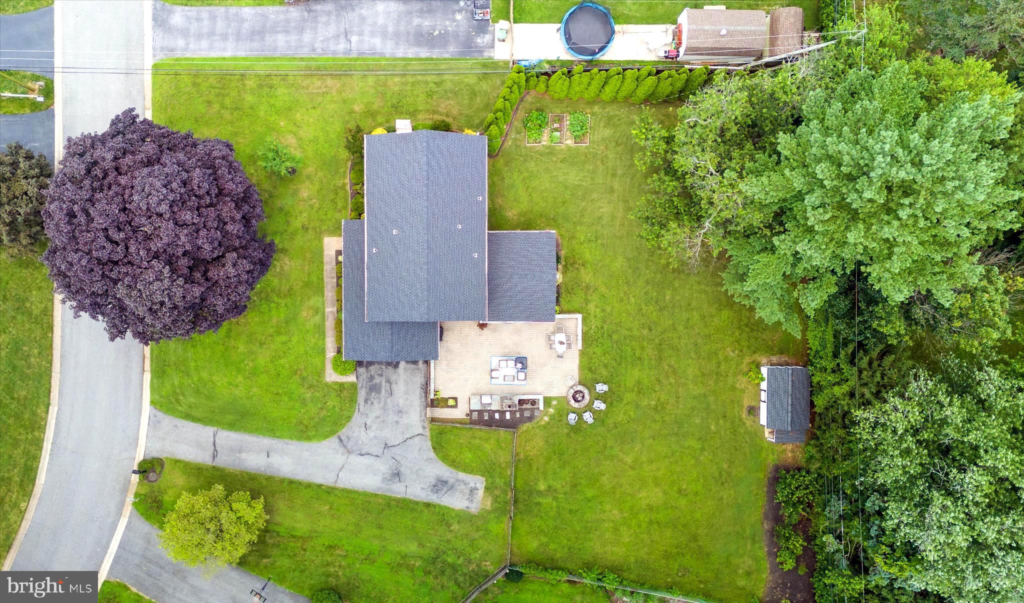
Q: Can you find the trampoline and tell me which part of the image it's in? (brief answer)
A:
top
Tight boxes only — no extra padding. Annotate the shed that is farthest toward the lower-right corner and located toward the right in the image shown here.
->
[760,366,810,442]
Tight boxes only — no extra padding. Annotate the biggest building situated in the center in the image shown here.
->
[341,119,557,362]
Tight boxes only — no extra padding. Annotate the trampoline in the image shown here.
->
[553,0,616,58]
